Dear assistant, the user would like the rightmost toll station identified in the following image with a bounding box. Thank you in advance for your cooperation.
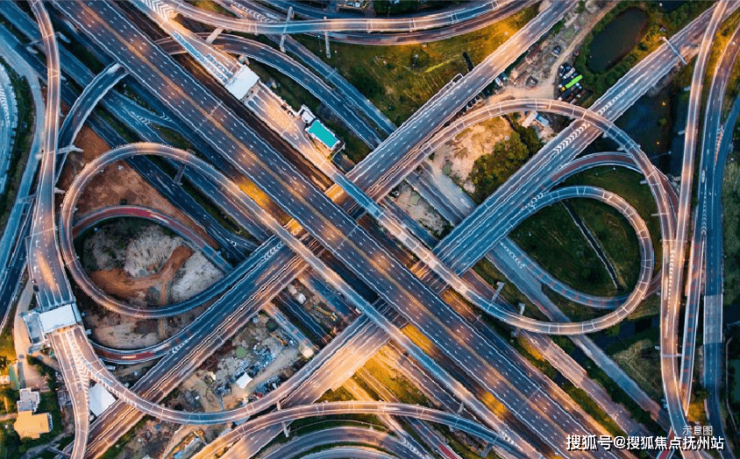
[223,63,265,105]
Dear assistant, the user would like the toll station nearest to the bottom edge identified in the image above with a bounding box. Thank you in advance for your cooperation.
[37,297,81,338]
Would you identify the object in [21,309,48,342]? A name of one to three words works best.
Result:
building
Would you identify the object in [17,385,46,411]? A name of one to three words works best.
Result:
house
